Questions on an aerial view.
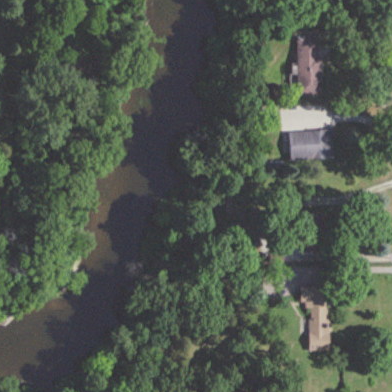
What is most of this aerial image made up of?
trees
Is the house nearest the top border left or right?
right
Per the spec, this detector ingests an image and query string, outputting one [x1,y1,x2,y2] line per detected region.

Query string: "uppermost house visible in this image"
[290,35,323,94]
